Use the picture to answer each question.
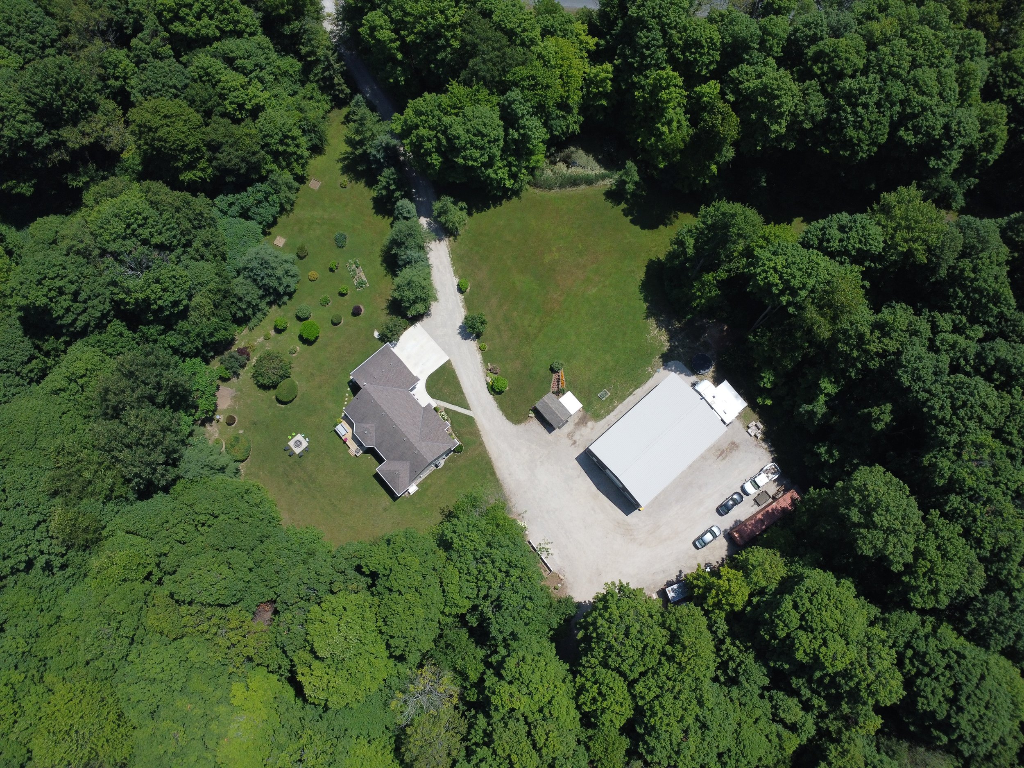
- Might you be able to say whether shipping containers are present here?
Yes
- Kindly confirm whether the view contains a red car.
No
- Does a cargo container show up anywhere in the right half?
Yes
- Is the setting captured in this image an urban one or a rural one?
rural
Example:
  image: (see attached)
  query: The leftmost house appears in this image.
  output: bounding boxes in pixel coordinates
[343,342,460,497]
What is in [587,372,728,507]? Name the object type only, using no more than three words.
barn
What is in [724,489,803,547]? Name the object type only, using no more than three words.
shipping container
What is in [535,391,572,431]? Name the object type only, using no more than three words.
shed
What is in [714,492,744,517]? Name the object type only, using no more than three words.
car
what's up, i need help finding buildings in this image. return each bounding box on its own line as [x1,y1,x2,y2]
[343,342,460,497]
[587,372,728,507]
[535,391,572,431]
